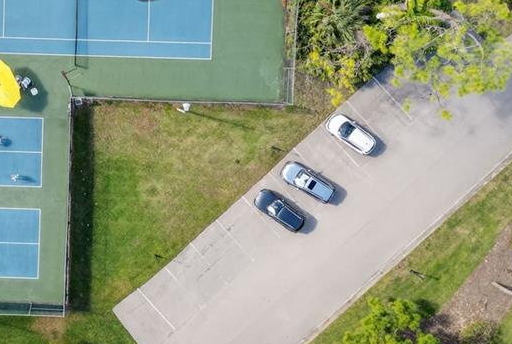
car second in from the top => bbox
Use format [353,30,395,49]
[282,161,338,204]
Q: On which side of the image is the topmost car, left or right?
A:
right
